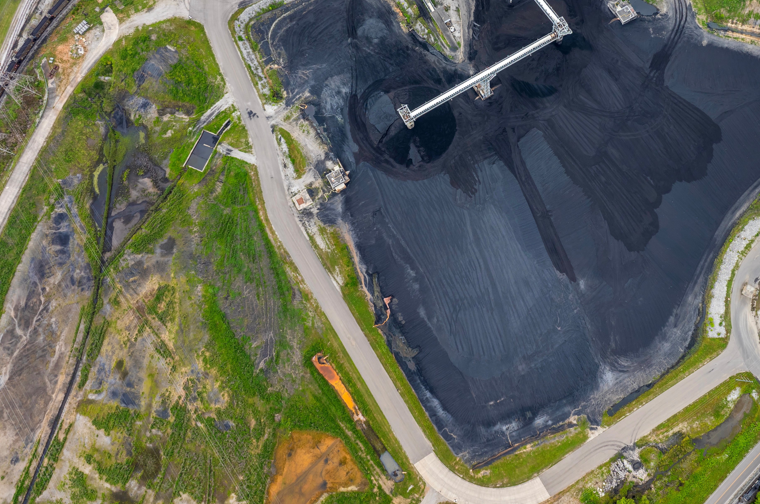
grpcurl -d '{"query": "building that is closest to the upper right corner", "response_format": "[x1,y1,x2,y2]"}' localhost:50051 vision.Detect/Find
[608,0,637,25]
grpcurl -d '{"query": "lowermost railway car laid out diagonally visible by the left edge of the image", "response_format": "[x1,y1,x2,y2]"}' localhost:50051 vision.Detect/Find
[1,60,20,84]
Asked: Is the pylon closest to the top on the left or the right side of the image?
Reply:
left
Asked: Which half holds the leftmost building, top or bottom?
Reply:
top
